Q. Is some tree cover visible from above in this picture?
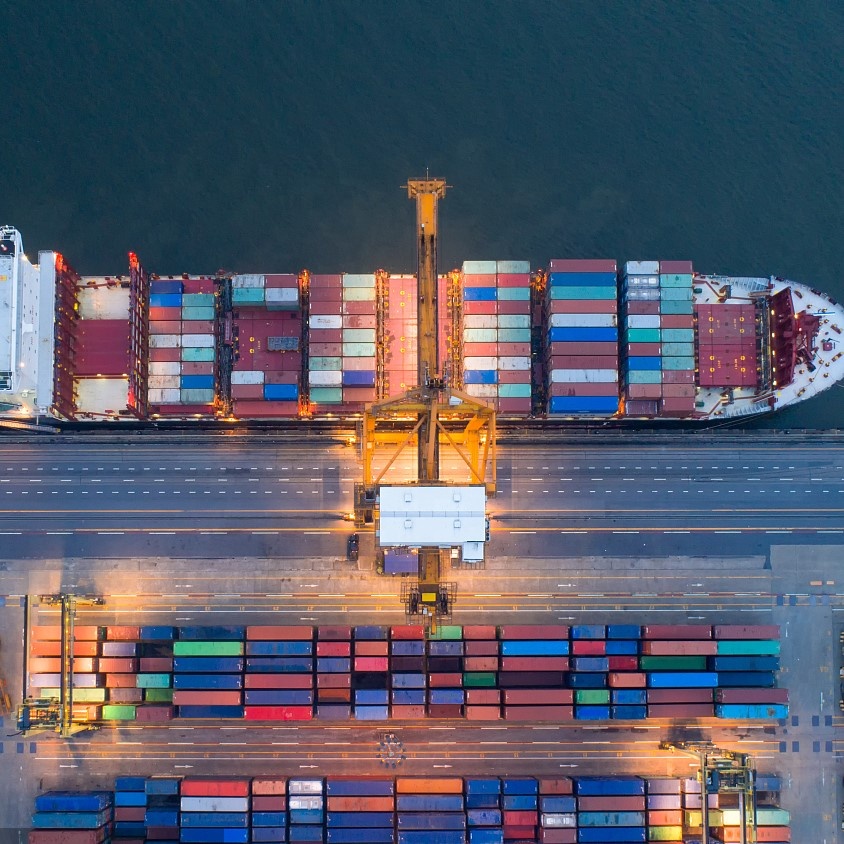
No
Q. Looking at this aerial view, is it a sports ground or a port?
port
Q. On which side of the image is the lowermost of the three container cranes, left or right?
right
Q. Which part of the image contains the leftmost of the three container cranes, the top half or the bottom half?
bottom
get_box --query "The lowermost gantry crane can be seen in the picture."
[662,739,757,844]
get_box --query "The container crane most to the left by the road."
[14,592,103,746]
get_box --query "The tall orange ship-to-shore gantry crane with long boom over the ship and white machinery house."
[340,172,505,634]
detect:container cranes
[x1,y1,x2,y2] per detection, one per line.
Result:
[340,172,505,634]
[14,592,103,746]
[662,739,757,844]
